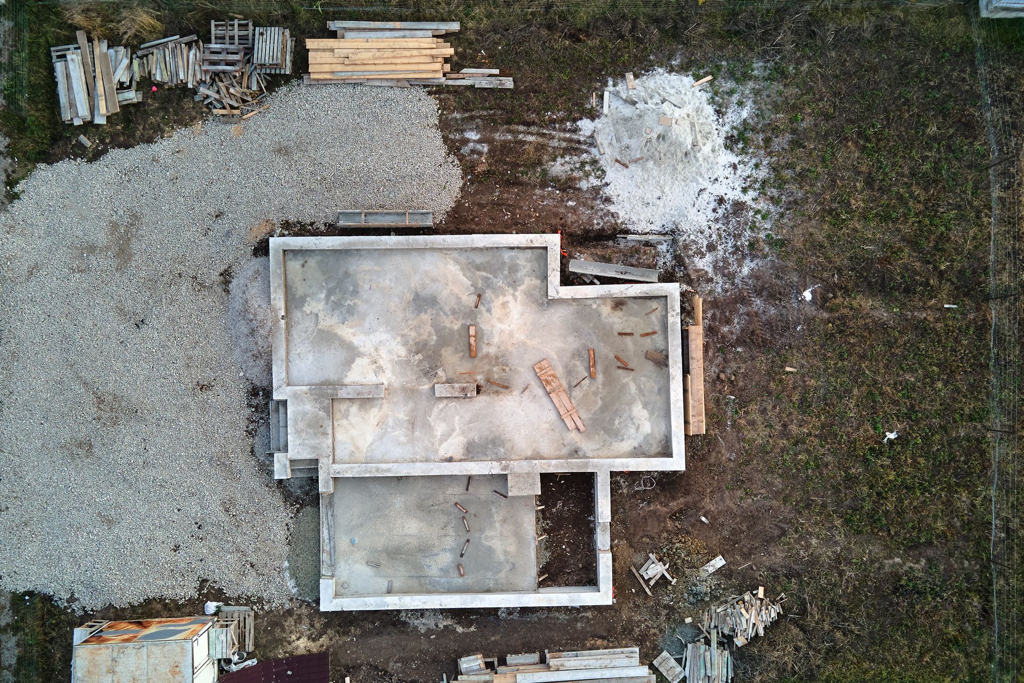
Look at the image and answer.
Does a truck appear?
No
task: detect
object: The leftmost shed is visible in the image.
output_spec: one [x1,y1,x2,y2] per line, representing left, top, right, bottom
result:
[72,618,219,683]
